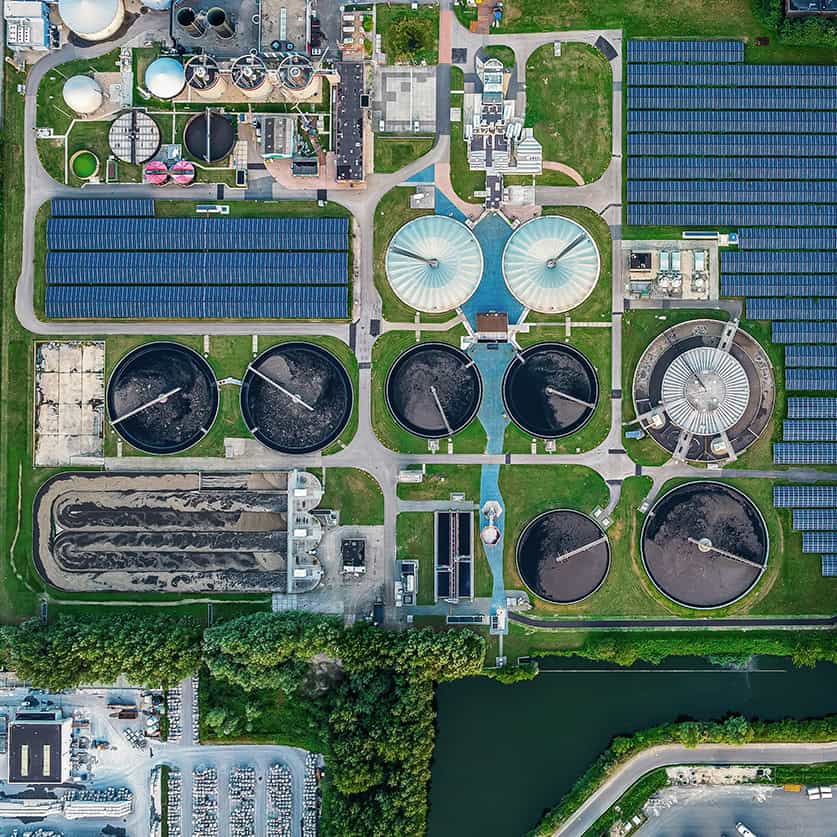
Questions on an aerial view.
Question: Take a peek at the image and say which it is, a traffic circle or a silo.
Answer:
silo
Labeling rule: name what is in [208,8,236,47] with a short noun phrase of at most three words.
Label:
silo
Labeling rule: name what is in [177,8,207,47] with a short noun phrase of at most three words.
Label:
silo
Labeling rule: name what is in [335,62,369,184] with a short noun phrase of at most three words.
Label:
building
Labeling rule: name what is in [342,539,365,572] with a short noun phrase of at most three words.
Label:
house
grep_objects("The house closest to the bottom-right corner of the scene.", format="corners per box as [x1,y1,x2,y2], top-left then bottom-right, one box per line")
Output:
[490,606,508,634]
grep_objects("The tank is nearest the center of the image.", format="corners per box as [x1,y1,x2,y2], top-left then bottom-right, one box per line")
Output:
[386,342,482,439]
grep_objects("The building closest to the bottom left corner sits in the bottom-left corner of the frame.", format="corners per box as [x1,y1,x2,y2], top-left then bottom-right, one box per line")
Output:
[8,702,79,783]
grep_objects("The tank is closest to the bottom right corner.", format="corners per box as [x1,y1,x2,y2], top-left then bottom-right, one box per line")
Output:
[641,481,769,609]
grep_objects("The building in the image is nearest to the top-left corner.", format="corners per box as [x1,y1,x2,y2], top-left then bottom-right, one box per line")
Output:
[5,2,55,53]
